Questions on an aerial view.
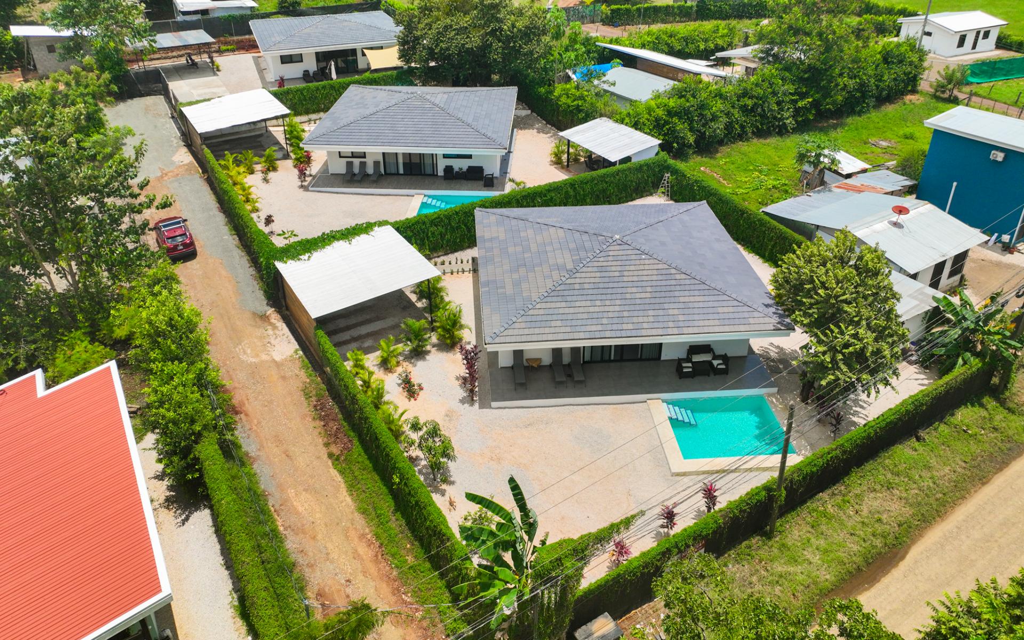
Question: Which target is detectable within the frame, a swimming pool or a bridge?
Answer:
swimming pool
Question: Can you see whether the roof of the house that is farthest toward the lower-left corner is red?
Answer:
Yes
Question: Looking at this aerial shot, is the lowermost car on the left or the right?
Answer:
left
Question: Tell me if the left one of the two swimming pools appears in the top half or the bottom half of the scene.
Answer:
top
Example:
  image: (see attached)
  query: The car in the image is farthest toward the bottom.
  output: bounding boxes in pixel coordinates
[146,213,193,255]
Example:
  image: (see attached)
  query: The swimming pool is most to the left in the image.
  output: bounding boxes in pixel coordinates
[404,193,488,227]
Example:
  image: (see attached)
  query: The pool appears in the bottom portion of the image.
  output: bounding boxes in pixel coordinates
[645,391,804,477]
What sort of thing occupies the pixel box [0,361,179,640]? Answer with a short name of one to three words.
house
